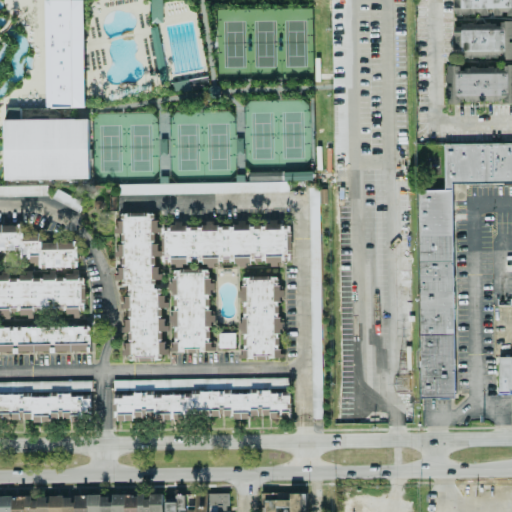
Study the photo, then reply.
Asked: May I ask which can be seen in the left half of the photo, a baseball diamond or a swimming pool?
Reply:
swimming pool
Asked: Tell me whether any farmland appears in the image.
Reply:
No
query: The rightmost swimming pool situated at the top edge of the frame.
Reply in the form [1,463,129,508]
[167,22,204,74]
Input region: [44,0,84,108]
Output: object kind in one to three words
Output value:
building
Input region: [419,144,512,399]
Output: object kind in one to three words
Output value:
building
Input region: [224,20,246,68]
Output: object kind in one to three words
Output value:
tennis court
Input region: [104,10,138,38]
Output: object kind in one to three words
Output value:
swimming pool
